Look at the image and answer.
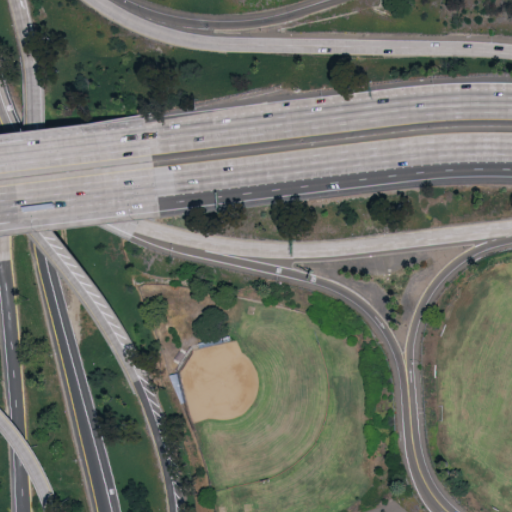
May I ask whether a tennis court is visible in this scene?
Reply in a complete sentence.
No, no tennis court can be seen from above.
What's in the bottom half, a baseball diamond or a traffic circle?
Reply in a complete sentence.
The feature located in the bottom half is a baseball diamond.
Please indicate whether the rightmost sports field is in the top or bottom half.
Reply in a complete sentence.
Seen from above, the rightmost sports field lies in the bottom half of the view.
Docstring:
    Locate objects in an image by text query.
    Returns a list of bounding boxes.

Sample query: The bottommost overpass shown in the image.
[0,408,54,505]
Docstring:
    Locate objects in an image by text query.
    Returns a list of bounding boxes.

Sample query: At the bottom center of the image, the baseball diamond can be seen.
[178,302,328,490]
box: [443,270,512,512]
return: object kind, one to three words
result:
sports field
